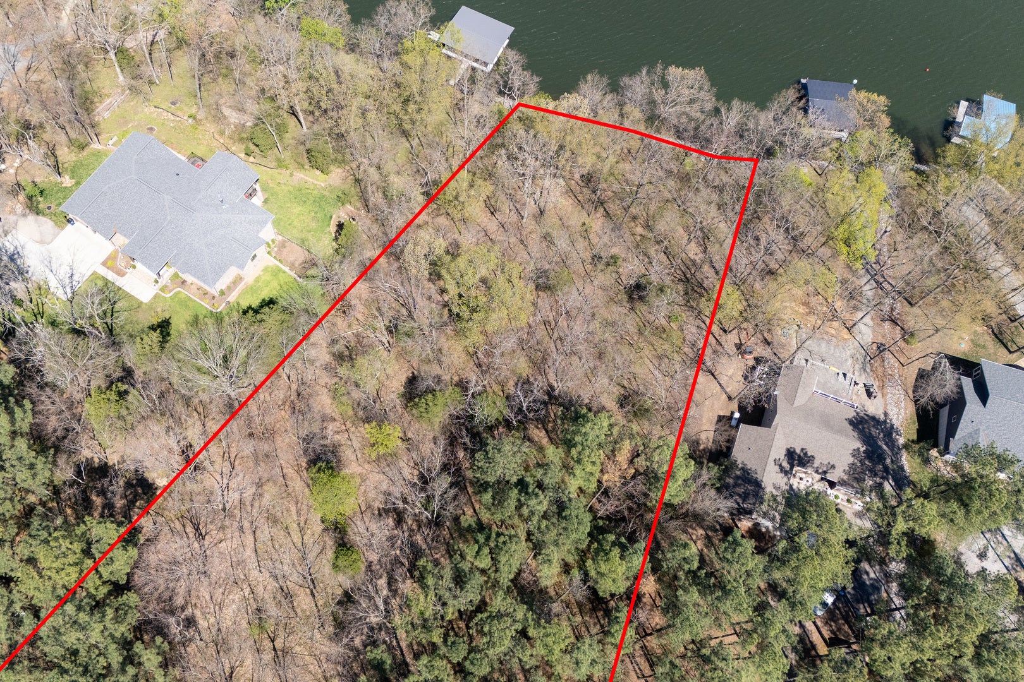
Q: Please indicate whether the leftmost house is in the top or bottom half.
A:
top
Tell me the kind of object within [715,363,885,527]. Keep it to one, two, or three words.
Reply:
house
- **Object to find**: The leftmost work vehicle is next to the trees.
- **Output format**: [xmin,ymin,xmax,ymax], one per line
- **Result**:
[741,337,757,363]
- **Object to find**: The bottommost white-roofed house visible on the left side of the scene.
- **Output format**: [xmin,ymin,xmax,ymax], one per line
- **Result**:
[59,132,276,289]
